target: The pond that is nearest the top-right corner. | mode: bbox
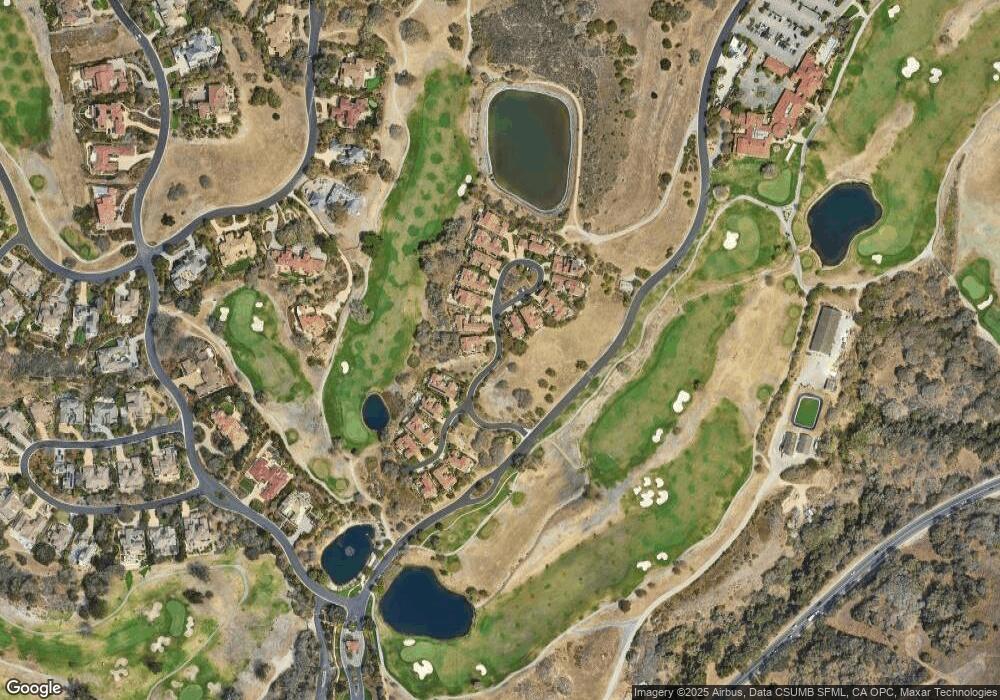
[809,182,881,266]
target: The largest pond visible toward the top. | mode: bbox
[487,90,570,210]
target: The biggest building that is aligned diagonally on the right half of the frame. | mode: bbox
[733,48,825,159]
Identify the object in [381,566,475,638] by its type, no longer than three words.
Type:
pond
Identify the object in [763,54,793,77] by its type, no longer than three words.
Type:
building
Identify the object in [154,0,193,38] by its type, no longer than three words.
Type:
house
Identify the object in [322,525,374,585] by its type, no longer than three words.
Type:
pond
